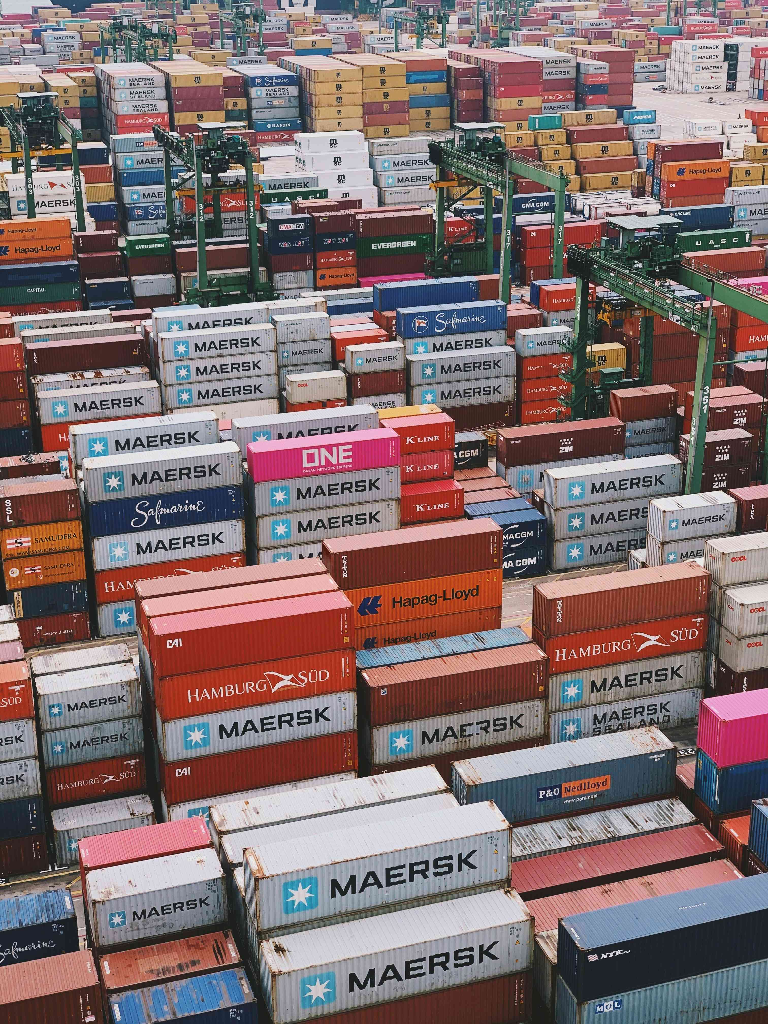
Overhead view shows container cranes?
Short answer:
Yes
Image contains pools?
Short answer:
No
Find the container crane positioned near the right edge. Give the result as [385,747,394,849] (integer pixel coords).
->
[543,214,768,494]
